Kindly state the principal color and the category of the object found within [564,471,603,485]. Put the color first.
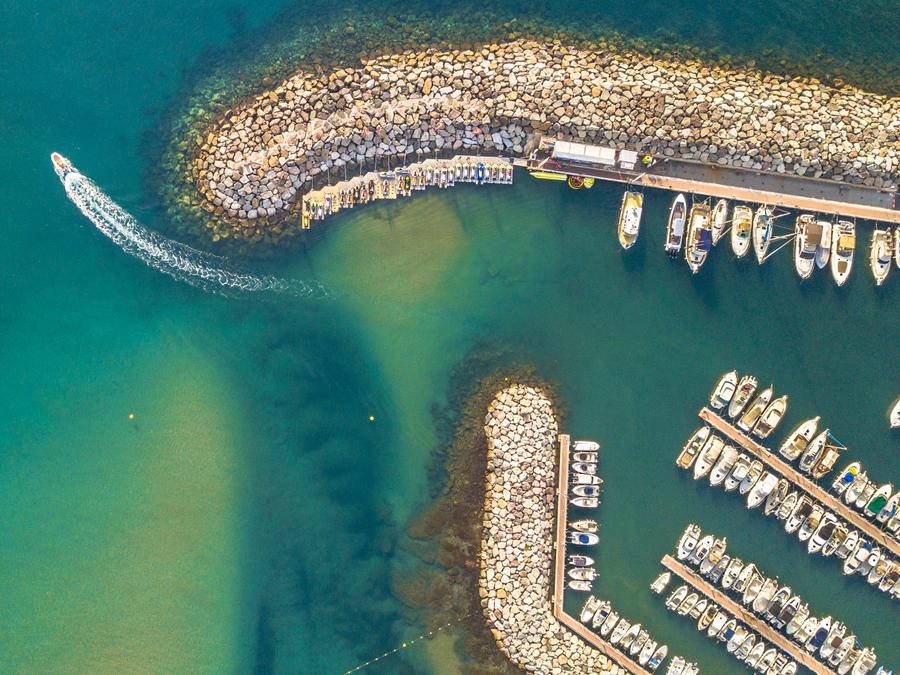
white boat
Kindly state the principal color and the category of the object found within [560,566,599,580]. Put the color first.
white boat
